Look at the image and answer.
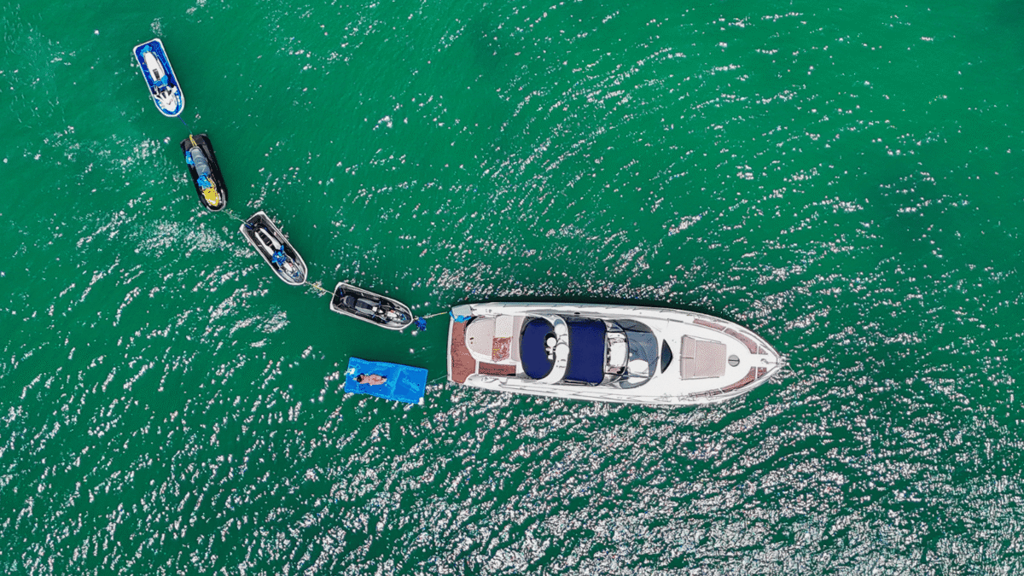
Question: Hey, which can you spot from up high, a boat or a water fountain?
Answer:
boat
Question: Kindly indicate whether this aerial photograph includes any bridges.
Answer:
No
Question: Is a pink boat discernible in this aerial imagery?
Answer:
No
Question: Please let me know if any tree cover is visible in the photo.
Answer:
No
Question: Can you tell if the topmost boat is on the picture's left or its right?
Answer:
left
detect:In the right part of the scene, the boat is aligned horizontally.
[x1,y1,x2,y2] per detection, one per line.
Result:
[448,303,790,404]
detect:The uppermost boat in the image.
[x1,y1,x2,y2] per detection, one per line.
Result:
[136,41,184,119]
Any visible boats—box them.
[243,212,309,286]
[332,282,414,329]
[182,135,228,213]
[448,303,790,404]
[136,41,184,119]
